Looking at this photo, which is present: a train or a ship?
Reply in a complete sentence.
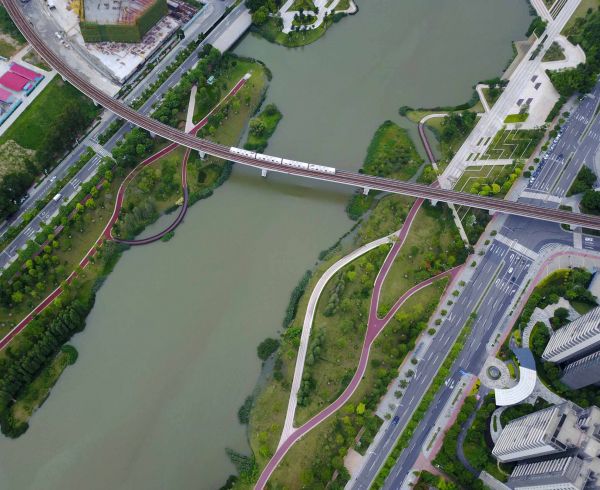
Looking from above, you can make out a train.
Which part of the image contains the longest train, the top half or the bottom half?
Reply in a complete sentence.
It is in the top half that the longest train appears.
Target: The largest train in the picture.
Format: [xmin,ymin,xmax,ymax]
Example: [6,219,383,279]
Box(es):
[231,149,336,175]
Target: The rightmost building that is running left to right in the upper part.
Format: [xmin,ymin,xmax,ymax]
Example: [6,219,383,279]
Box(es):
[77,0,178,42]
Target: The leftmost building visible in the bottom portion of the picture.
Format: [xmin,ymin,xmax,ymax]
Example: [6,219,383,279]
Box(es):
[492,348,536,406]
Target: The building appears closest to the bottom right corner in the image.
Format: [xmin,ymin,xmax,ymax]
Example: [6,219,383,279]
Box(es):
[496,402,600,490]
